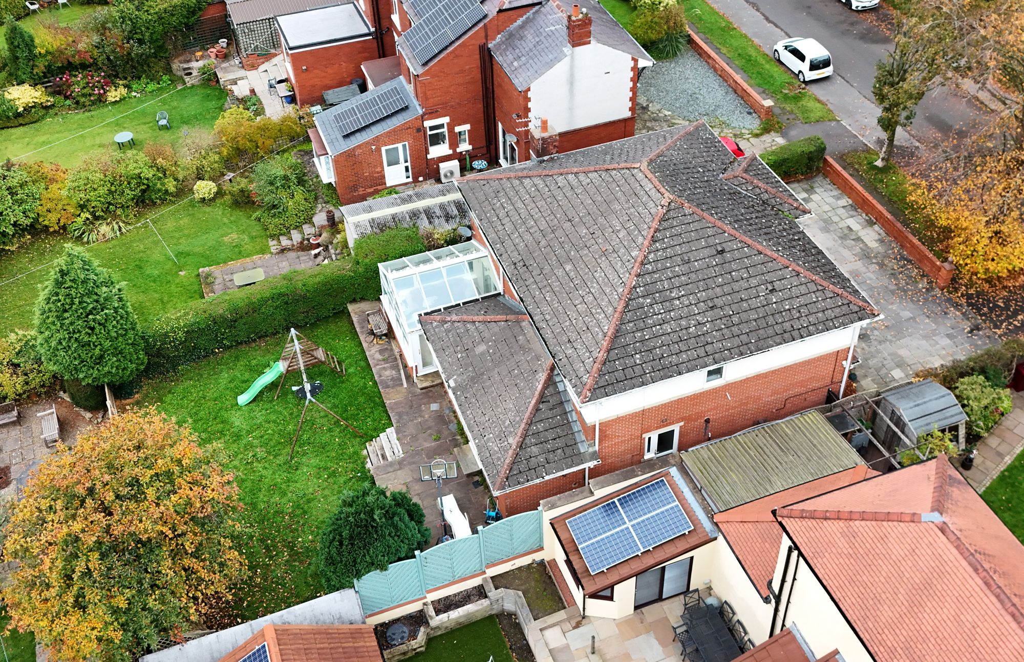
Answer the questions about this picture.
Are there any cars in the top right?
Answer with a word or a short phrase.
Yes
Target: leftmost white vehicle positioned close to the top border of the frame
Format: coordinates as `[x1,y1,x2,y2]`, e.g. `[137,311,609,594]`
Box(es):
[772,33,836,83]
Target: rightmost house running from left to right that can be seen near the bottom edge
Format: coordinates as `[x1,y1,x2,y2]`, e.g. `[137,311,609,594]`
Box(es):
[541,451,1024,662]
